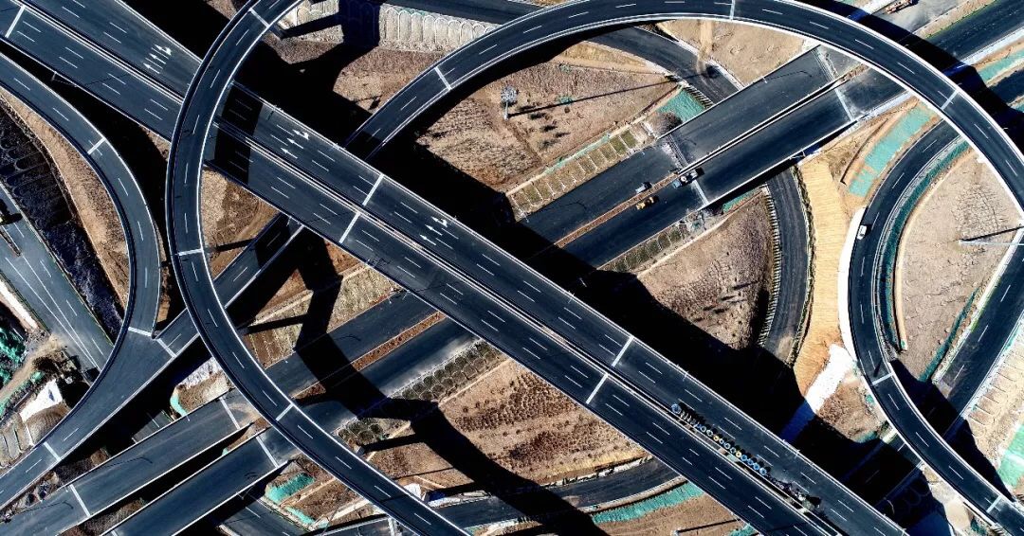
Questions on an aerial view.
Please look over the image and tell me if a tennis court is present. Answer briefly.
No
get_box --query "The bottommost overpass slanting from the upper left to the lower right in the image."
[870,372,1024,536]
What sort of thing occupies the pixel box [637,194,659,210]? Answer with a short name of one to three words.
work vehicle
